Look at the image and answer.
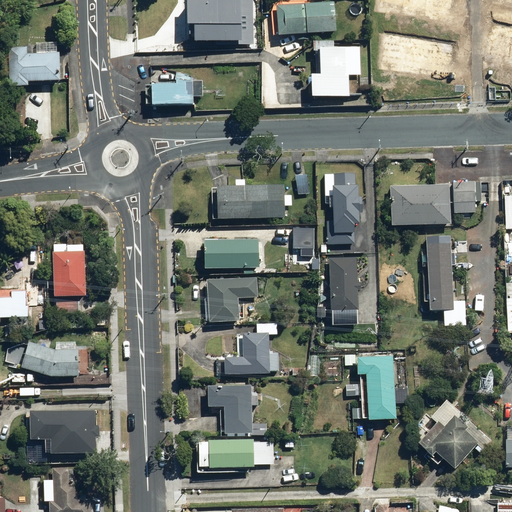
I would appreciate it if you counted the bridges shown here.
0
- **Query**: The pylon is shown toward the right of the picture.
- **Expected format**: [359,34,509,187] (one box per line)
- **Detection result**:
[478,370,494,402]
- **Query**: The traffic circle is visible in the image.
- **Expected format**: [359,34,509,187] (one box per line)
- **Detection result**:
[103,140,138,176]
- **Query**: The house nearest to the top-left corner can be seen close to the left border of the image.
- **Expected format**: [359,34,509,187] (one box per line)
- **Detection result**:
[9,42,60,86]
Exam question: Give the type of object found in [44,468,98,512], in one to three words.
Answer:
house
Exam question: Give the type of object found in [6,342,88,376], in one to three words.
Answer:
house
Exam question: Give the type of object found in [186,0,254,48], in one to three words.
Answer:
building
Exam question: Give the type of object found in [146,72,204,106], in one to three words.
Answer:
building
